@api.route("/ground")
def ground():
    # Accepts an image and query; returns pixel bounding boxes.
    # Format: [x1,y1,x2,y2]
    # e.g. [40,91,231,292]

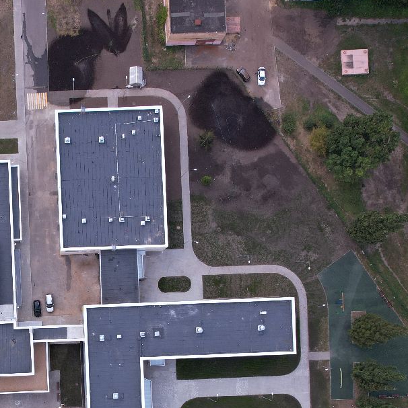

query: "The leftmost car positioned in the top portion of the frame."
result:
[235,66,252,84]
